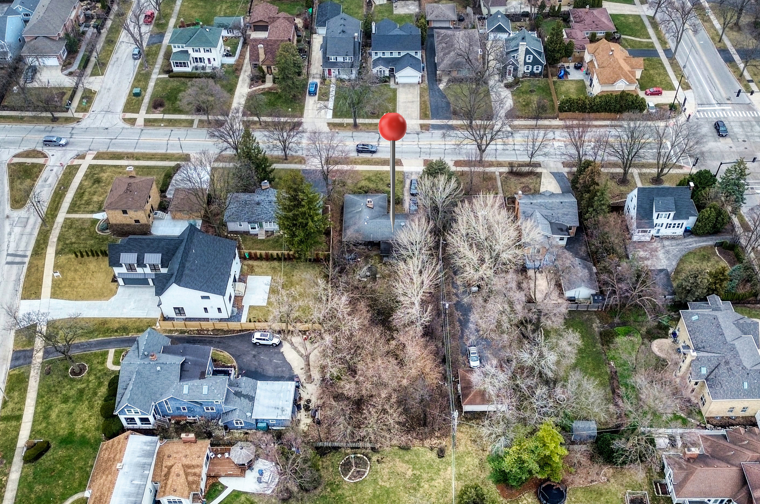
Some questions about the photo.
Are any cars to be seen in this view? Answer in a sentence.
Yes, there's a car here.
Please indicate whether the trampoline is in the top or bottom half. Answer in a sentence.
The trampoline is in the bottom half of the image.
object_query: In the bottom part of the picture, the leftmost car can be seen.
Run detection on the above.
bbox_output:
[249,330,281,347]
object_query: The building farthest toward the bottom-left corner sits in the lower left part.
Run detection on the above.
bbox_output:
[85,418,214,504]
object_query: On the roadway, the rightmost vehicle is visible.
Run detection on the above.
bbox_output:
[712,118,730,137]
